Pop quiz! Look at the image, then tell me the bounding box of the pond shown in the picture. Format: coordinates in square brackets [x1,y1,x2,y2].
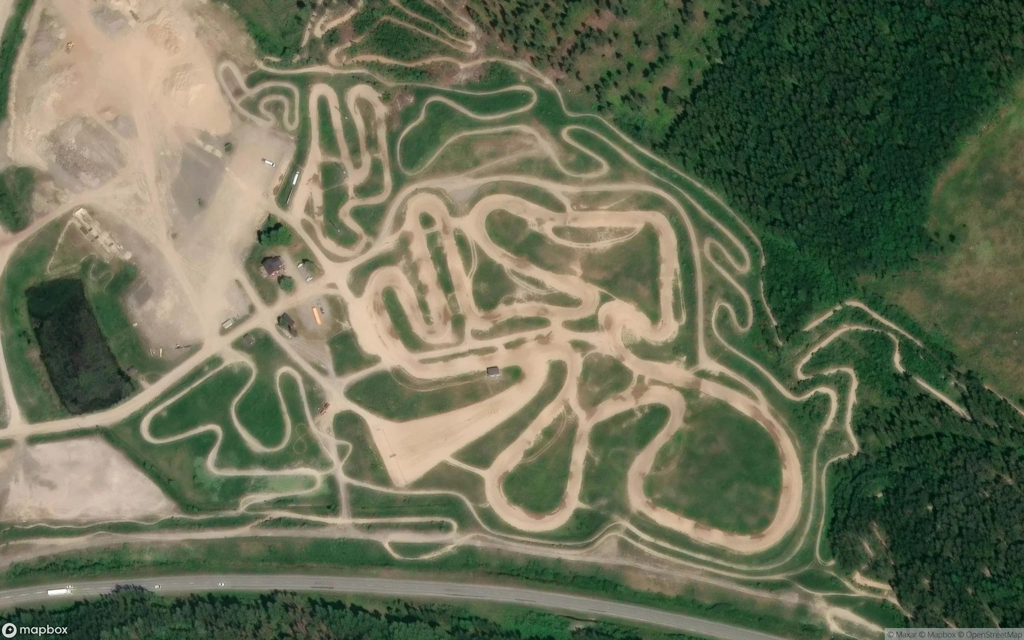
[24,277,136,416]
